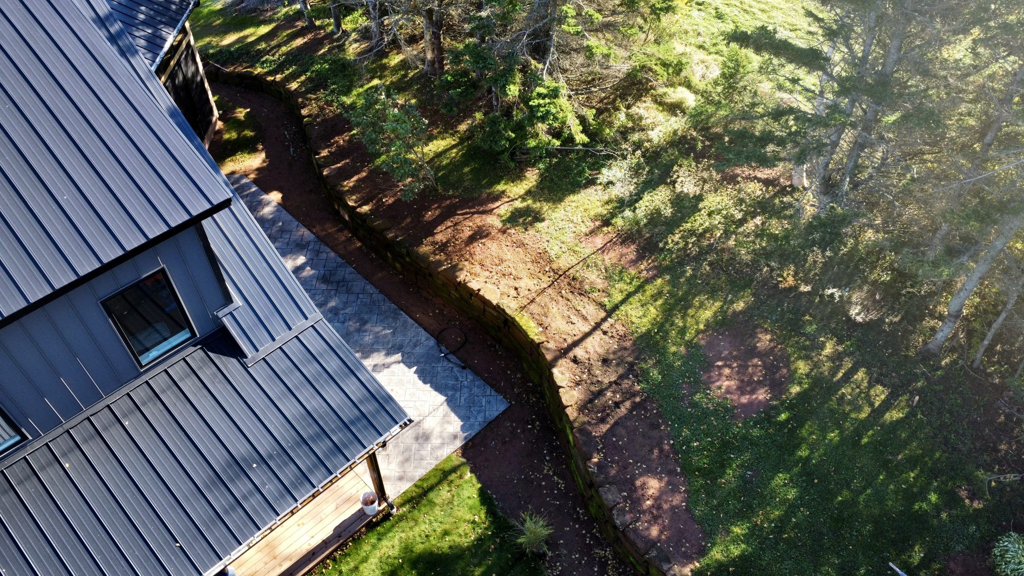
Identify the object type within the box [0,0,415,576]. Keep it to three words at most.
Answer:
house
